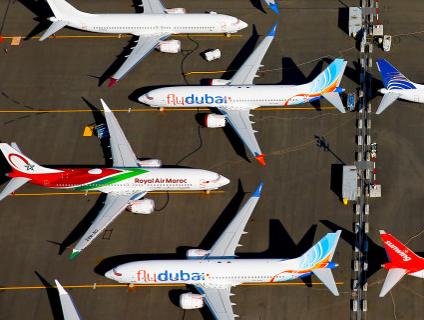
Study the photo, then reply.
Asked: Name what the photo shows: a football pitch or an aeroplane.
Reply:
aeroplane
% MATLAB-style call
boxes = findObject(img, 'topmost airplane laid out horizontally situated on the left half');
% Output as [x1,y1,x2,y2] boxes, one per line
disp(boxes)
[40,0,247,86]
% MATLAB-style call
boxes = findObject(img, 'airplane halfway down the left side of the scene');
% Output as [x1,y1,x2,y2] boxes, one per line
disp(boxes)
[0,99,228,258]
